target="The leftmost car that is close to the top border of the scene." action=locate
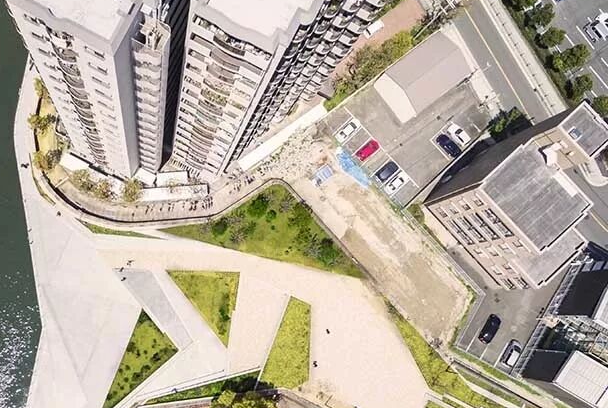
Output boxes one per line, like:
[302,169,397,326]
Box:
[362,20,385,40]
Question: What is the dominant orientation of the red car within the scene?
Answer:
at an angle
